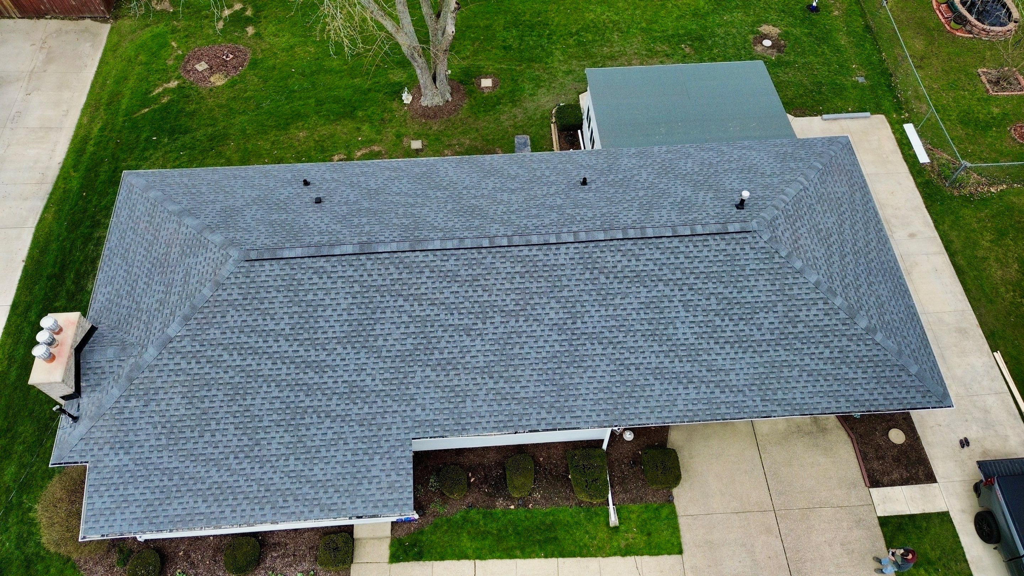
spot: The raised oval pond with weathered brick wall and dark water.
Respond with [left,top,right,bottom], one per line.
[945,0,1020,41]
